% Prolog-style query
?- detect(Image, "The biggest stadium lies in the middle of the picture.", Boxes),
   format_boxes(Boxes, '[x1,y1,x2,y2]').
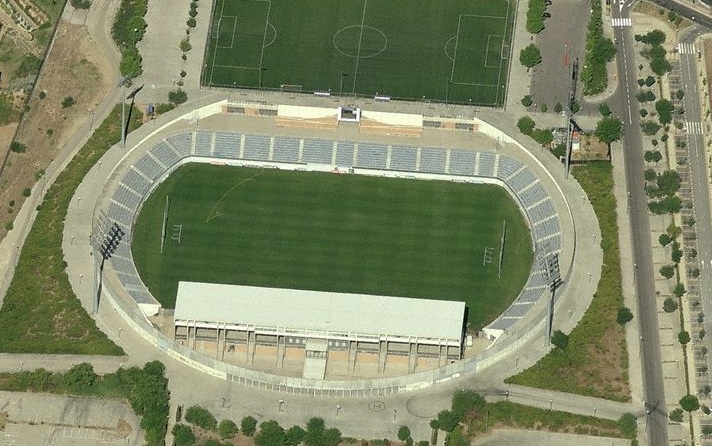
[92,98,578,397]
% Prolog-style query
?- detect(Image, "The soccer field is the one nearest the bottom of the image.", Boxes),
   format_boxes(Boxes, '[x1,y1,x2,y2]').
[133,159,536,330]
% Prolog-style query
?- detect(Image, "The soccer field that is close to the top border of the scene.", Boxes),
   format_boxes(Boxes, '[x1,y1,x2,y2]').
[202,0,517,109]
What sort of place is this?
sports ground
